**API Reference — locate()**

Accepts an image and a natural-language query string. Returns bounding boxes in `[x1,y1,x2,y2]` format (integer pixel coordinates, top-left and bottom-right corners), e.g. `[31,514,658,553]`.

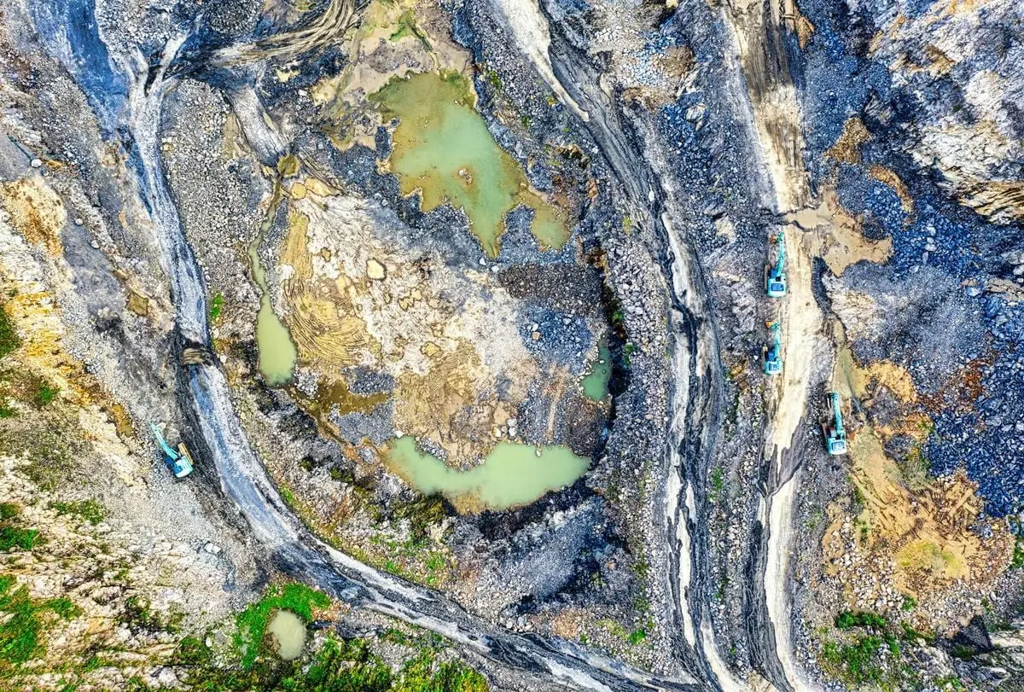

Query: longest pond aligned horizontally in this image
[389,435,585,514]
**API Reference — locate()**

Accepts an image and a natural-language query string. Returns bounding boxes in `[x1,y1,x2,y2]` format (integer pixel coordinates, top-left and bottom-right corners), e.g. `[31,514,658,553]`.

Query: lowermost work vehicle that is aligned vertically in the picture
[822,396,851,459]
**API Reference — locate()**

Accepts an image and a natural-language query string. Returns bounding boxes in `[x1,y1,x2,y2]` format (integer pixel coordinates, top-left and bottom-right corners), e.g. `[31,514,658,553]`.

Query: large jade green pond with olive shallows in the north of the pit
[371,76,568,258]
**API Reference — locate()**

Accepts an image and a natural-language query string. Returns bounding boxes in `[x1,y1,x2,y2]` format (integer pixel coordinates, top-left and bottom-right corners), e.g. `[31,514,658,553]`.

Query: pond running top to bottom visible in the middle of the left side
[250,185,298,385]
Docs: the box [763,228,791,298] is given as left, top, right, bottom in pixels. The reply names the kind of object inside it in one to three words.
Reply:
work vehicle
